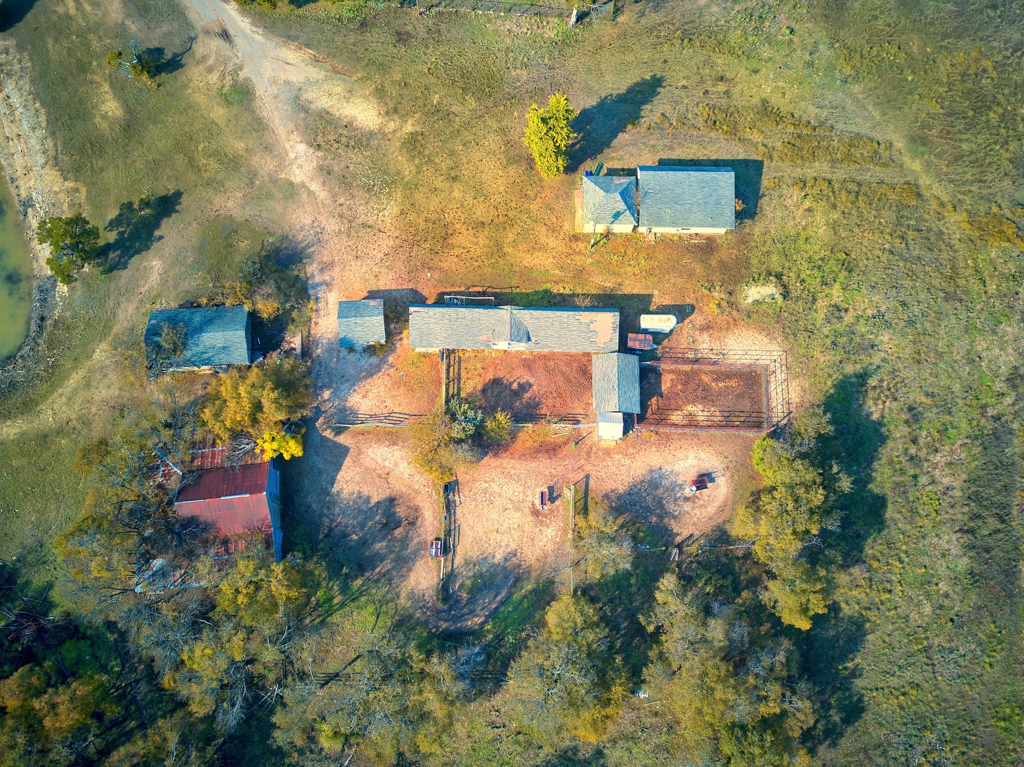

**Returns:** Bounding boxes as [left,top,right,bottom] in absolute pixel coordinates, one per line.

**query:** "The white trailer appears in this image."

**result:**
[637,316,681,336]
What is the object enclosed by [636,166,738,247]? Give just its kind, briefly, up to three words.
house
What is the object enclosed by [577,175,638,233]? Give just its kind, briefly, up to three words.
house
